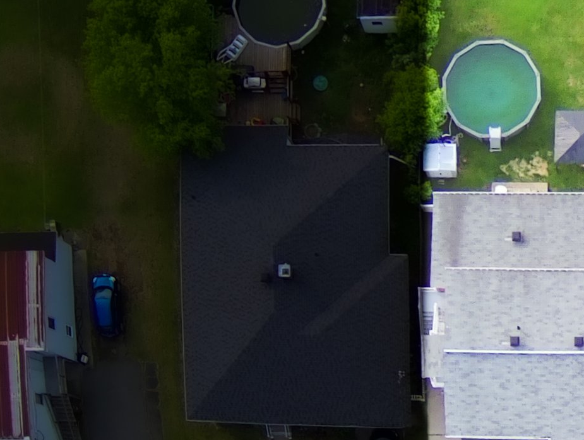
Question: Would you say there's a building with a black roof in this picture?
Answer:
Yes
